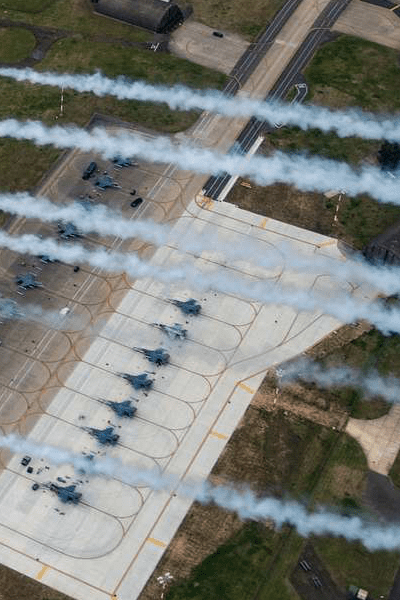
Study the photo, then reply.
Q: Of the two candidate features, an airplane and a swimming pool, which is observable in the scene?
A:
airplane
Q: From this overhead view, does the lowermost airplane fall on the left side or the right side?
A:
left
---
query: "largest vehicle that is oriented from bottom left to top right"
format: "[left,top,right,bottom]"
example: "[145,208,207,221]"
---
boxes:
[83,161,97,177]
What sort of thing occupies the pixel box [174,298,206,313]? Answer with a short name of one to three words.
airplane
